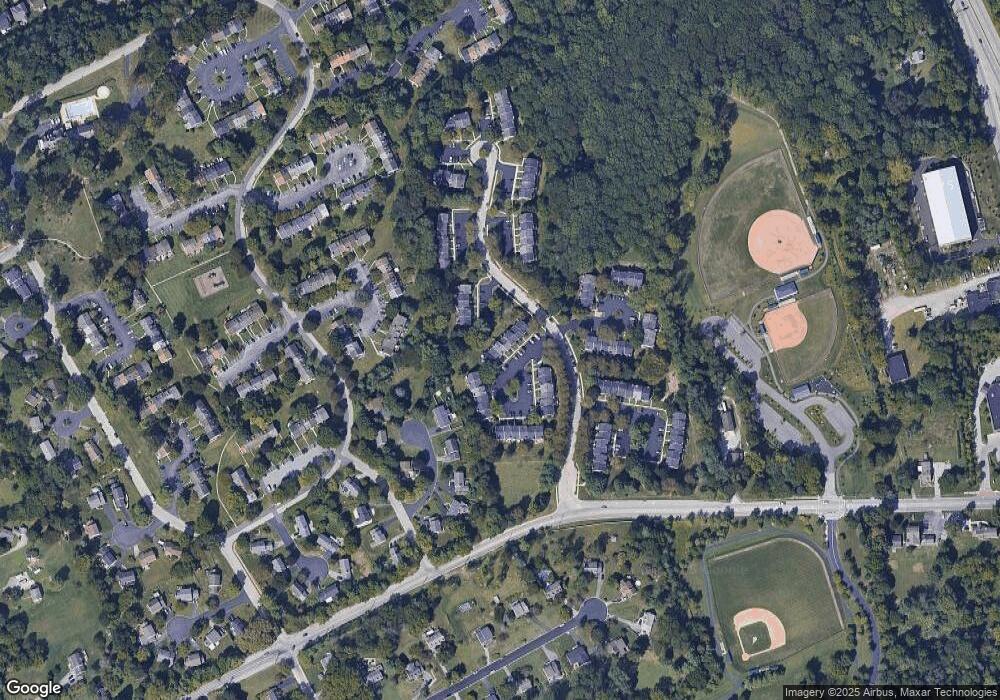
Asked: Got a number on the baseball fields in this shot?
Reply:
three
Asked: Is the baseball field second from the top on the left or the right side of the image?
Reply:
right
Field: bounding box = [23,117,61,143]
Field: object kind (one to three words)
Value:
house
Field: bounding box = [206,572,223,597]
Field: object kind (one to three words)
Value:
house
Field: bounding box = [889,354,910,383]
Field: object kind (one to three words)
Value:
barn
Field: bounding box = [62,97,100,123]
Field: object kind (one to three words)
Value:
swimming pool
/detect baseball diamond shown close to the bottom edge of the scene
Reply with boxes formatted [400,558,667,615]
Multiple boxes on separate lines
[706,539,843,668]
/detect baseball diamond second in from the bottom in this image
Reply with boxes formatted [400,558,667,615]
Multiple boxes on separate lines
[764,288,837,385]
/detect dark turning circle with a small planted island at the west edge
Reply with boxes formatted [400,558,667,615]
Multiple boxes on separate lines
[4,310,33,342]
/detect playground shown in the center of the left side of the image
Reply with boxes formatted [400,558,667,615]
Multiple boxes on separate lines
[193,268,229,298]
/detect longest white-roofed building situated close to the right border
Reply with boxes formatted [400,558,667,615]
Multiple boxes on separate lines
[923,166,973,247]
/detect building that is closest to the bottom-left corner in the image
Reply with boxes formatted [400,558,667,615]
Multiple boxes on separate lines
[63,653,86,679]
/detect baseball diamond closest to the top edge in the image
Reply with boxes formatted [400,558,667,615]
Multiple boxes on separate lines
[698,149,818,302]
